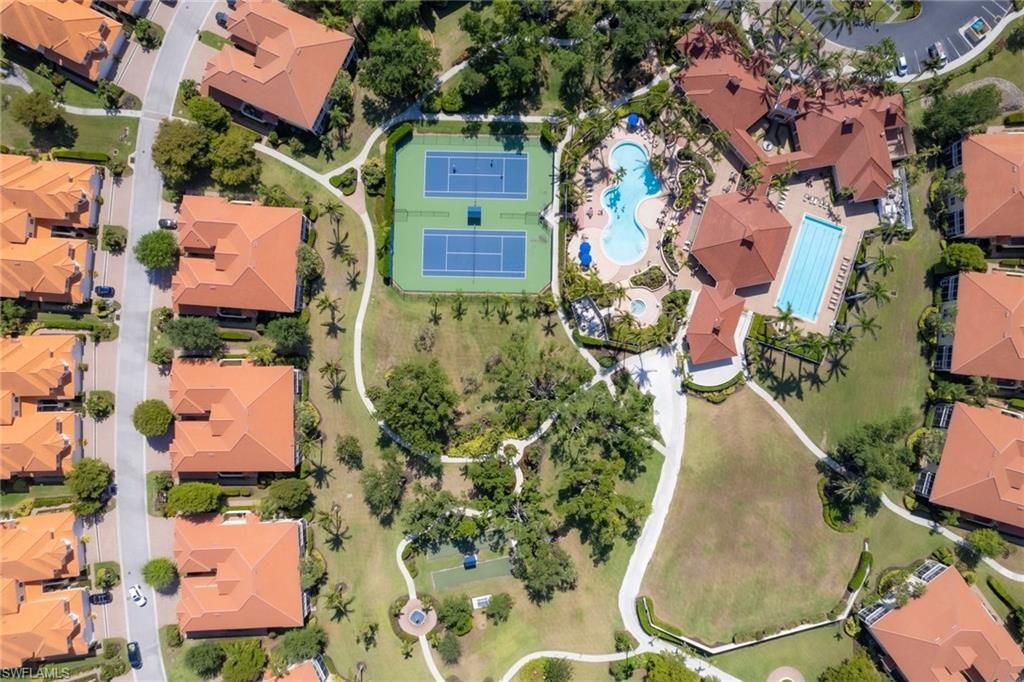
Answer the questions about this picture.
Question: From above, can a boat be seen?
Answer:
No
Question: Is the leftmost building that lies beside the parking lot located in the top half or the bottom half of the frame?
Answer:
top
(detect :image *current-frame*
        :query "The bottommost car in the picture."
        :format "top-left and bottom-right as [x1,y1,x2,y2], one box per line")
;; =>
[127,644,139,667]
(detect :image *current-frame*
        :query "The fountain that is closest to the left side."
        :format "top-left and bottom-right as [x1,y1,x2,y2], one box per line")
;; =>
[408,609,427,627]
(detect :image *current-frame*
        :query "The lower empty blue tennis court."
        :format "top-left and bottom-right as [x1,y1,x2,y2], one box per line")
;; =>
[422,229,527,279]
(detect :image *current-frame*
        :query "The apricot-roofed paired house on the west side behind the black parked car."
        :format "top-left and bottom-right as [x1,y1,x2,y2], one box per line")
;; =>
[0,511,100,668]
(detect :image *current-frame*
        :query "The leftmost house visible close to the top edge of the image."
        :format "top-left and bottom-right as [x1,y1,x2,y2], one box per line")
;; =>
[0,0,142,84]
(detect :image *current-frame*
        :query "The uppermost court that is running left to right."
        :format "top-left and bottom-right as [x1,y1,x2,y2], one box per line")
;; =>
[424,151,528,200]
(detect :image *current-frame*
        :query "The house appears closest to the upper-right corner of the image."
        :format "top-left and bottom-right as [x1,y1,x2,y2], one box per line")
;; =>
[946,125,1024,248]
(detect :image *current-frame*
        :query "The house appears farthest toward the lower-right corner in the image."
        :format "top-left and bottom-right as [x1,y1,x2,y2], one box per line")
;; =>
[860,562,1024,682]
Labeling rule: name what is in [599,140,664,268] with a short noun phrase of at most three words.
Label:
swimming pool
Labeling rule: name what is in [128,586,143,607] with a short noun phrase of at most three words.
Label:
car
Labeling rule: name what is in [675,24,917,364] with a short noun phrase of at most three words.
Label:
building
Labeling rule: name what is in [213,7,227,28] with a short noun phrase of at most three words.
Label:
car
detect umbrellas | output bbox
[627,113,639,125]
[580,241,591,253]
[580,252,592,264]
